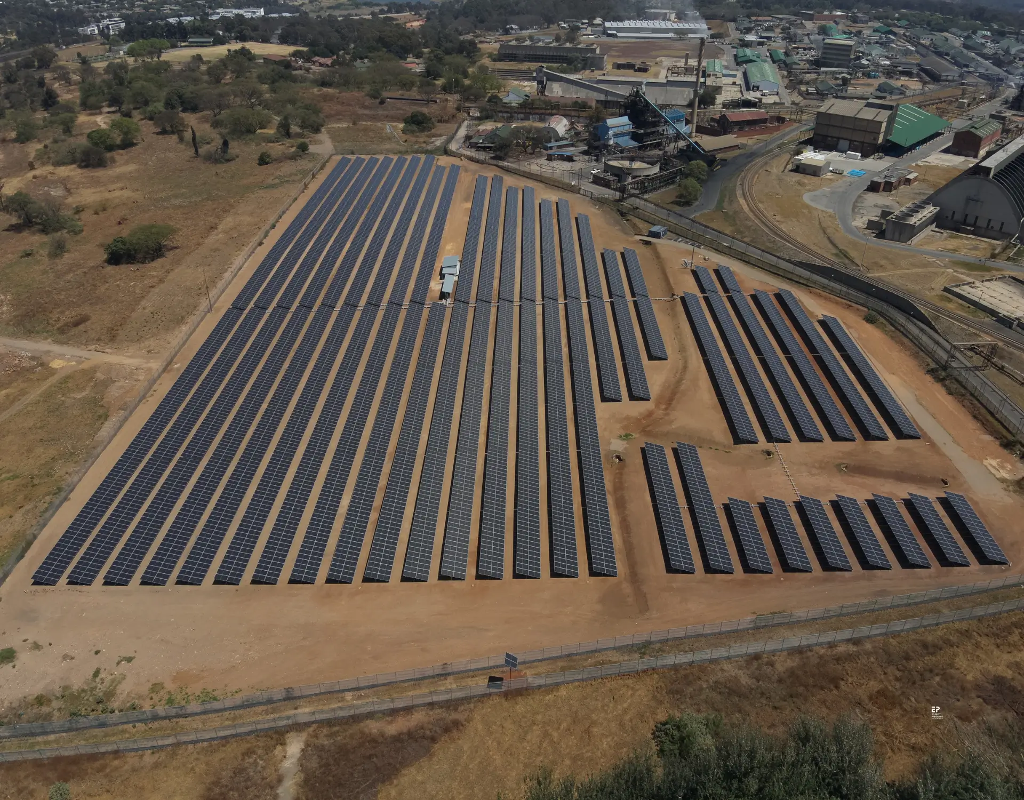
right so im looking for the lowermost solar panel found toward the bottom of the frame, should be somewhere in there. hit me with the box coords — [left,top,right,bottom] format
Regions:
[503,653,516,690]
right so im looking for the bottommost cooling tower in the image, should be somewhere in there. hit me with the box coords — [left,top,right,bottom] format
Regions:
[886,193,926,244]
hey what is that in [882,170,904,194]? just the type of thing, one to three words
building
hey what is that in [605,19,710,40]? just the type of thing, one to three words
building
